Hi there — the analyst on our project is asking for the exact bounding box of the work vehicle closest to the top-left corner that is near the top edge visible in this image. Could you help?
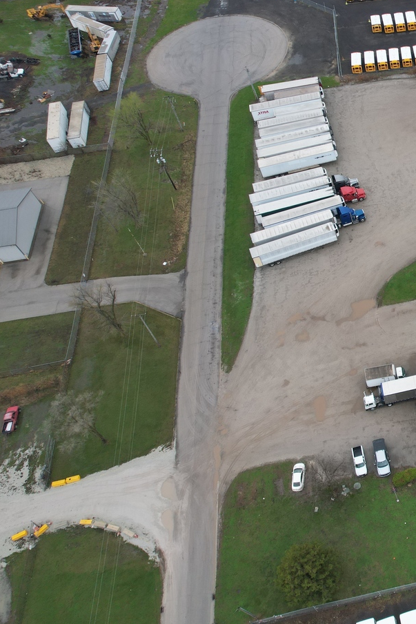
[24,4,67,22]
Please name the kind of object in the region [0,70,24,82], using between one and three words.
vehicle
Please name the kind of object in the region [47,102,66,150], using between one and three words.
trailer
